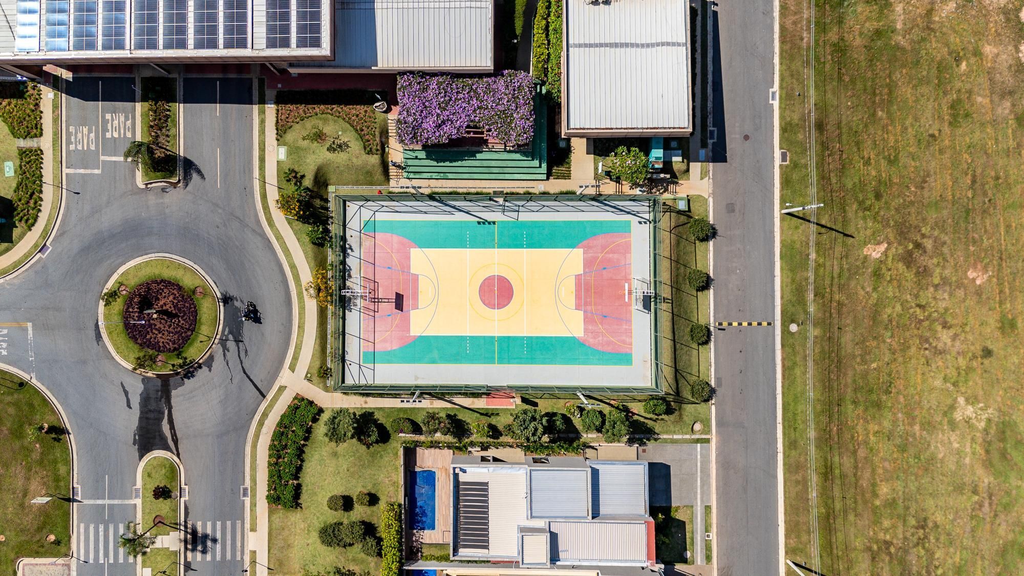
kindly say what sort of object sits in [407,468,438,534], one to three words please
swimming pool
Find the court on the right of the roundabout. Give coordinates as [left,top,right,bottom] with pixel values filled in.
[345,201,652,386]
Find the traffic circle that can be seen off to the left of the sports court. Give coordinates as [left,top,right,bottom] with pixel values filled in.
[99,253,224,378]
